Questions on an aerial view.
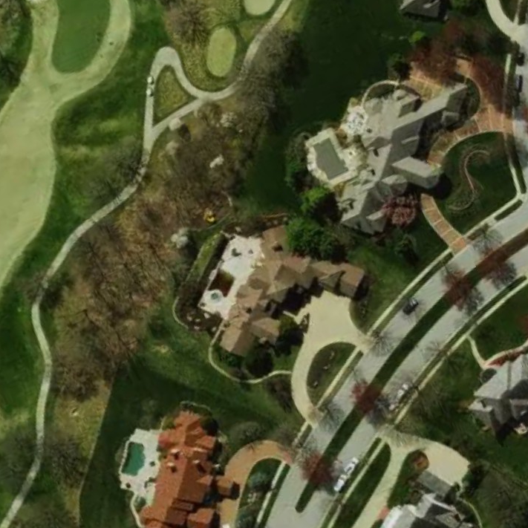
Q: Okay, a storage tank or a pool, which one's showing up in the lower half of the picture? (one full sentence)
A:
What appears in the lower half of the picture is a pool.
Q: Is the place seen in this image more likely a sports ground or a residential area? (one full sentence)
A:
The picture captures a residential area.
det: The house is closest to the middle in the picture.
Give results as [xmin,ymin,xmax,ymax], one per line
[219,226,370,360]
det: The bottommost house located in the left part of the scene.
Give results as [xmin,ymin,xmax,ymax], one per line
[139,407,236,528]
